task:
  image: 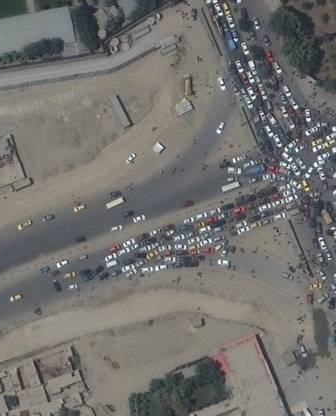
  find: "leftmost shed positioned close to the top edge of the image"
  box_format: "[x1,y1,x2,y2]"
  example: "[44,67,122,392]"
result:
[0,7,74,56]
